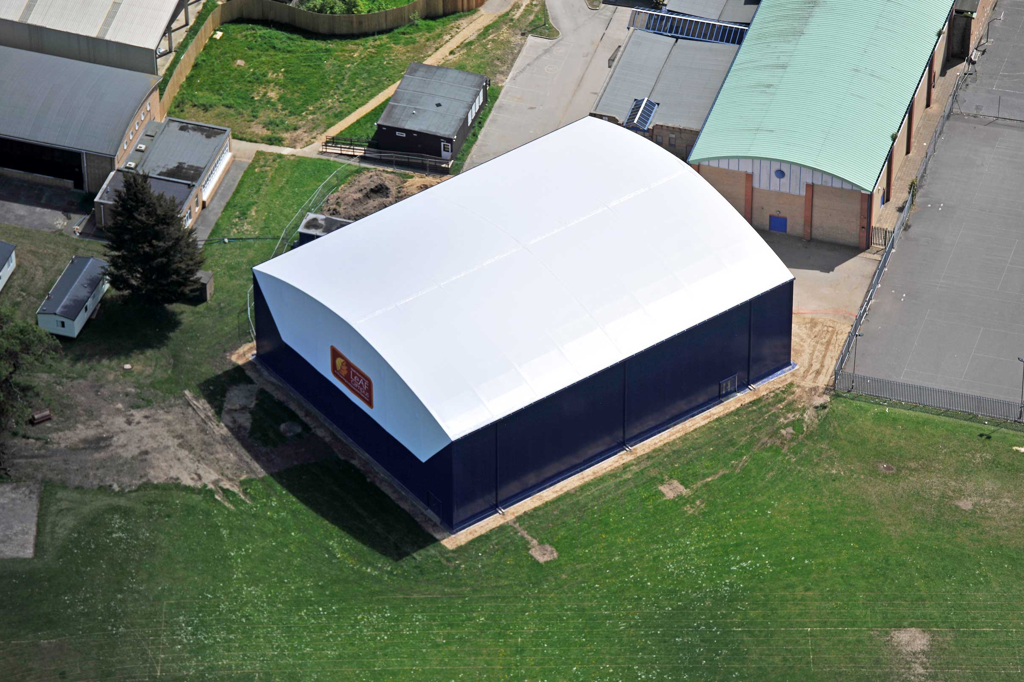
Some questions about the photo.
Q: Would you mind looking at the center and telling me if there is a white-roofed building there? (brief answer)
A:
Yes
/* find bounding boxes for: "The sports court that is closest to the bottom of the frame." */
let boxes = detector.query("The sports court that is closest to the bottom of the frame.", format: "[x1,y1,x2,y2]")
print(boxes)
[835,109,1024,422]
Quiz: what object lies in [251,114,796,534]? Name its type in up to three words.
building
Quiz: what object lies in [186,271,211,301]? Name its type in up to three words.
shed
